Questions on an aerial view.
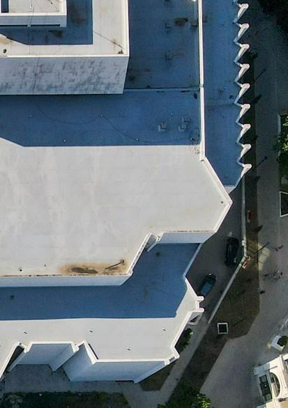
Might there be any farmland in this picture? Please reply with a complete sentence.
No, the scene doesn't show any farmland.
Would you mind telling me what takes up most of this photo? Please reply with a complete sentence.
Most of the picture is covered by buildings.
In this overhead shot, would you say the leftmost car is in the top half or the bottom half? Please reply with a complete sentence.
It is in the bottom half that the leftmost car appears.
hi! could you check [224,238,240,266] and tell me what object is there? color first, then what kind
black car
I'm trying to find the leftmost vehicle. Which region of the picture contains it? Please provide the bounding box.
[197,273,218,299]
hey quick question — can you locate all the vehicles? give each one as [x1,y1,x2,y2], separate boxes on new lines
[197,273,218,299]
[224,238,240,266]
